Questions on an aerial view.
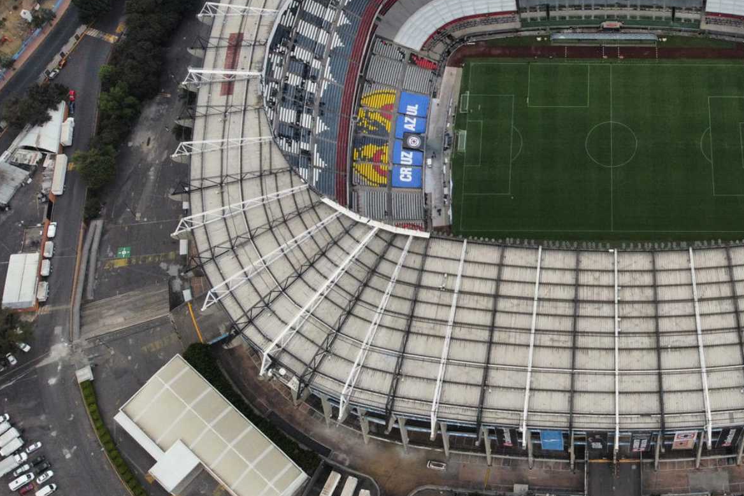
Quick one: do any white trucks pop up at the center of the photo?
No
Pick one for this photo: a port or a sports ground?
sports ground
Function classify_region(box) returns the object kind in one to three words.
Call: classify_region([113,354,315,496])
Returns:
building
